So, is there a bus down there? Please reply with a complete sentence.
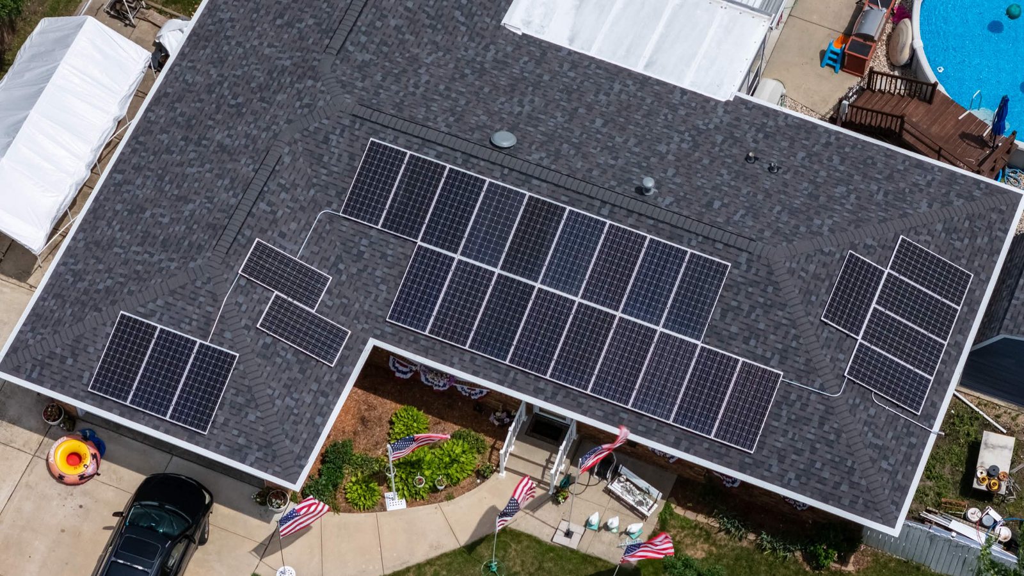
No, I can see no bus in this picture.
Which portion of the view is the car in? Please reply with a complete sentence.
The car sits in the bottom left section of the image.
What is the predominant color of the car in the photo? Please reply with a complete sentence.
In this view, the car is black.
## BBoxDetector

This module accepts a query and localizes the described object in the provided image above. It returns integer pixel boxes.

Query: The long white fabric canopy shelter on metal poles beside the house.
[0,13,156,280]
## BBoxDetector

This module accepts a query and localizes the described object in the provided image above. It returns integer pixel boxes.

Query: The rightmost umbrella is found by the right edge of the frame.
[985,92,1011,154]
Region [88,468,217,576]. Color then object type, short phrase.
black car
